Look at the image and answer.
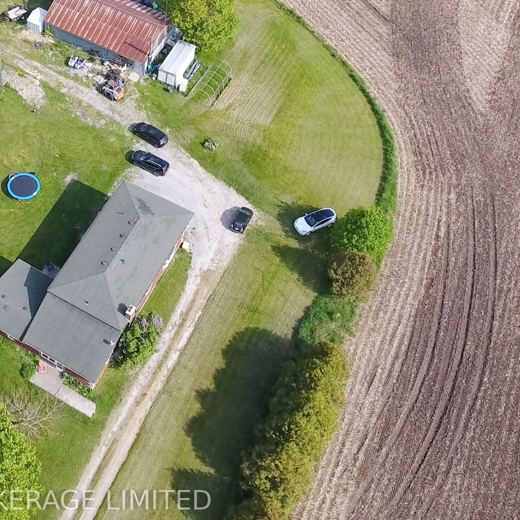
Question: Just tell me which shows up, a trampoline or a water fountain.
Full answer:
I can see a trampoline in this picture.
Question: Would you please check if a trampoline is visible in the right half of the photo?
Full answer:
No, I see no trampoline in the right half of the photo.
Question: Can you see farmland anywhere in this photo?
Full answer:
Yes, the picture does contain farmland.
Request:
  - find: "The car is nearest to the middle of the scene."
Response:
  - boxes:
[233,202,257,233]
